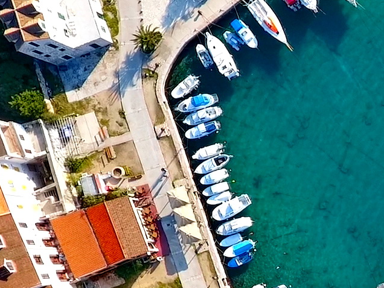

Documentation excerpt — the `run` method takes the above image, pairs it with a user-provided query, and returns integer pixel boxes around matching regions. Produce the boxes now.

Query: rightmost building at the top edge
[59,0,112,54]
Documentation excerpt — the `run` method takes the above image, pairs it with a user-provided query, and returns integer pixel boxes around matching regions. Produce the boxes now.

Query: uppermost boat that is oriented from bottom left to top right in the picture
[170,75,200,98]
